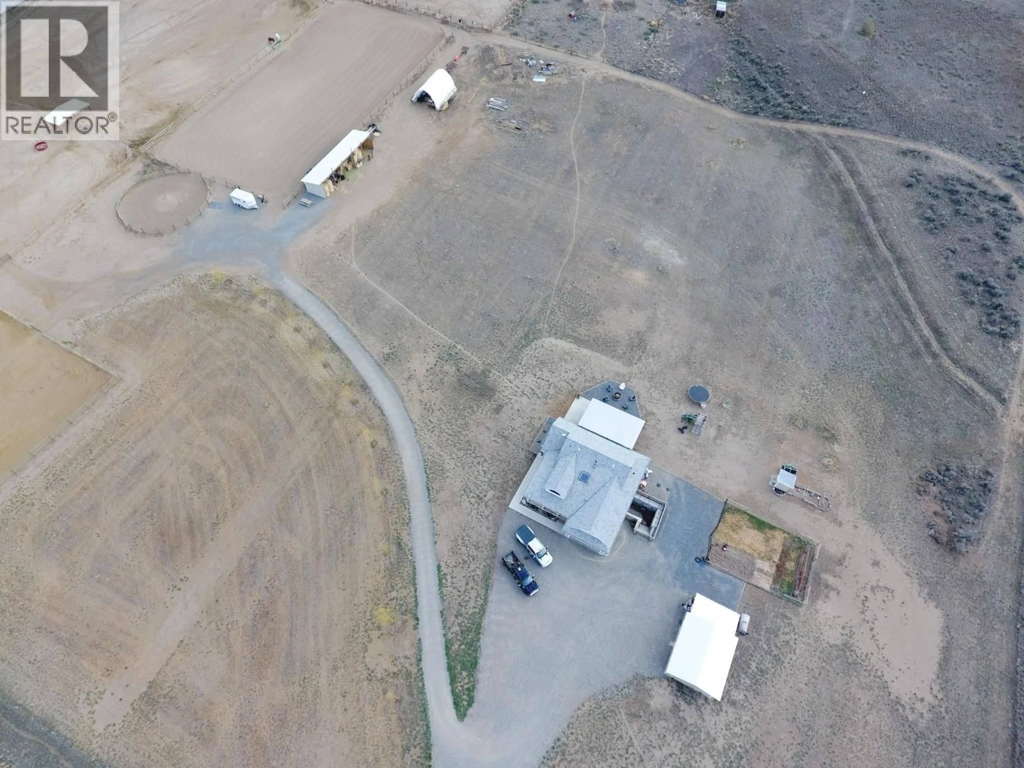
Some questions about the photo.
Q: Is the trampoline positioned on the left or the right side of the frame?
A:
right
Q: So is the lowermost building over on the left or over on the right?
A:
right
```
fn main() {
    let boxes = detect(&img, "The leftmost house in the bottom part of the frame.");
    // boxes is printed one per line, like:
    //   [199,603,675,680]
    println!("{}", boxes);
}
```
[520,417,652,557]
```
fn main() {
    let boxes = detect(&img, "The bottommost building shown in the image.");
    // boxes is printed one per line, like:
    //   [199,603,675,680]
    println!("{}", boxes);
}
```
[663,593,743,702]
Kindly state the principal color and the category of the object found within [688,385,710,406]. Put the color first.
blue trampoline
